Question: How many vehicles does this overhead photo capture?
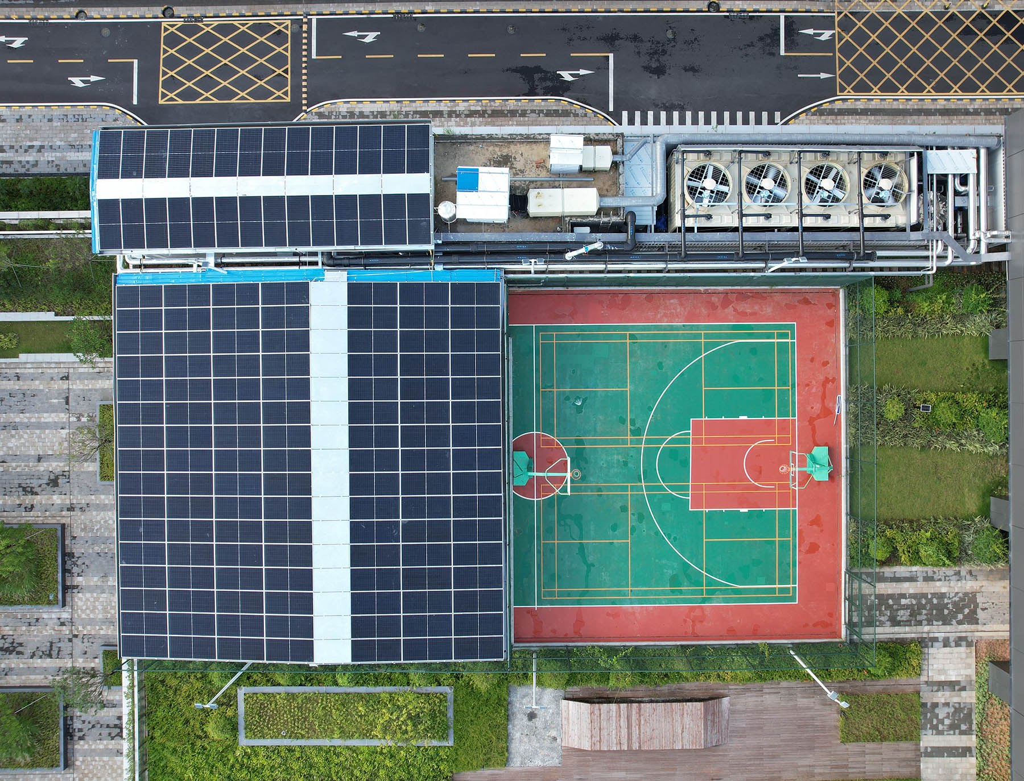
0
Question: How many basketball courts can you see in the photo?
1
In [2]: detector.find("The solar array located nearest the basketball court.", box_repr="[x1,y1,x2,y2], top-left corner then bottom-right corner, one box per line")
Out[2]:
[348,282,504,663]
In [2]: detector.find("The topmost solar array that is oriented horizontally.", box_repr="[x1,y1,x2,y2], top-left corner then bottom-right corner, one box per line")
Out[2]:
[97,125,431,179]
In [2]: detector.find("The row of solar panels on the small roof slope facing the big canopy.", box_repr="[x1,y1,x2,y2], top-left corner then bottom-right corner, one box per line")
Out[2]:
[97,193,432,250]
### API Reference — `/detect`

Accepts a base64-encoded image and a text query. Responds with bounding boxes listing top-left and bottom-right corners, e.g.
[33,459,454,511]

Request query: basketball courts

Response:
[502,288,849,649]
